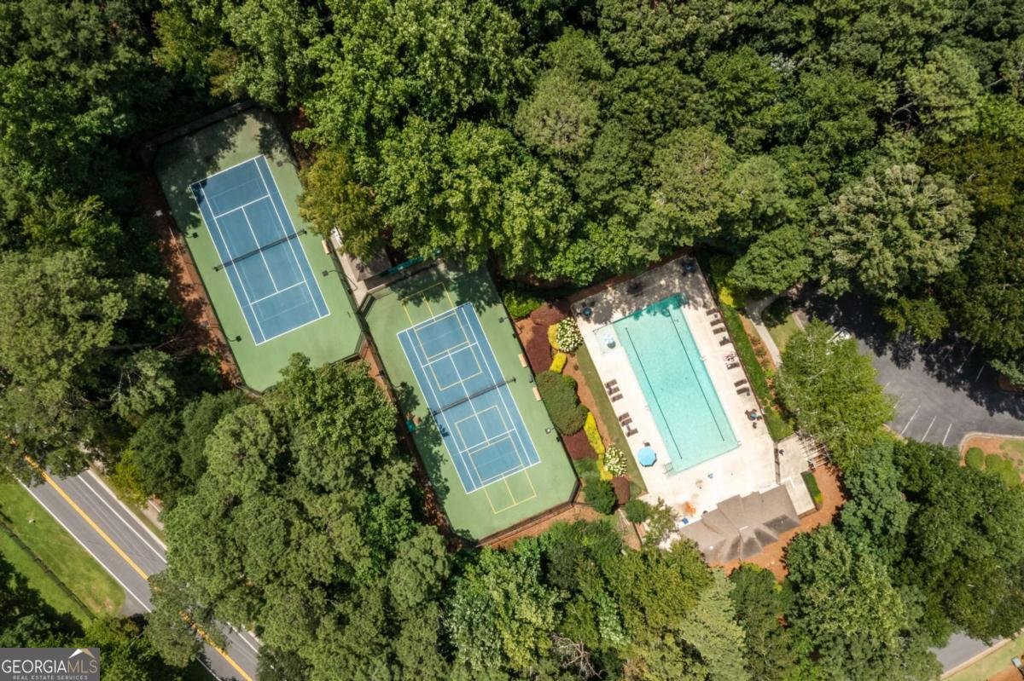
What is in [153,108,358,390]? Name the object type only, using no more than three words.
tennis court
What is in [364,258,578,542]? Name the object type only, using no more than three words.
tennis court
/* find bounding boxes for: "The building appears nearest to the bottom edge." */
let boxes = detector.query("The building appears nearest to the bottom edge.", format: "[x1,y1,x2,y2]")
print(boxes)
[679,483,800,567]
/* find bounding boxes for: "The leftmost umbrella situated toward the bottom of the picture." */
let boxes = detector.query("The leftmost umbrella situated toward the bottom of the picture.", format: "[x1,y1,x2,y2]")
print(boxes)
[637,446,656,465]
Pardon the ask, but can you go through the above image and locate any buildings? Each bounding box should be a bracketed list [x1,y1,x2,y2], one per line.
[344,238,393,283]
[679,483,800,567]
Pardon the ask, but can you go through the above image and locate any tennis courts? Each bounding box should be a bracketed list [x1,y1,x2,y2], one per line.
[153,108,358,390]
[364,258,578,542]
